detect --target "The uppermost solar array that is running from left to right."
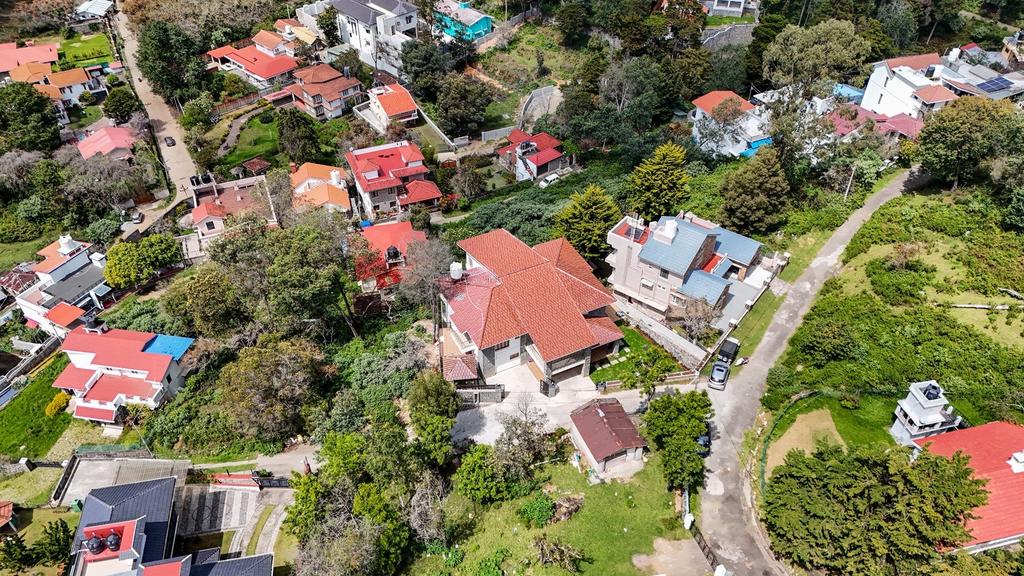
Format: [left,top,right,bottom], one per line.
[973,73,1018,94]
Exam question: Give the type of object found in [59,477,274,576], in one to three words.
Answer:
house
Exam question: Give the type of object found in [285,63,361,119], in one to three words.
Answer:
house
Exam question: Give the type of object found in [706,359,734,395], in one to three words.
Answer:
car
